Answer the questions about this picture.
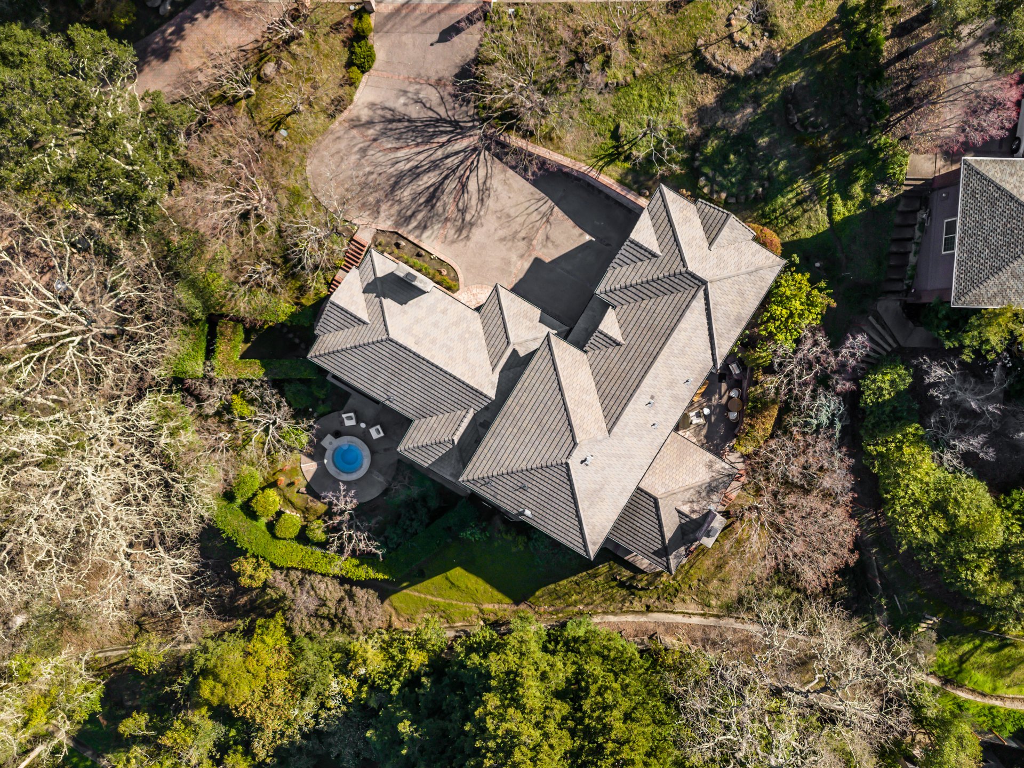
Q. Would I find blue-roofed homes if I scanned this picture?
No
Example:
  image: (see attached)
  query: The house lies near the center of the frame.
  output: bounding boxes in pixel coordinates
[304,181,791,581]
